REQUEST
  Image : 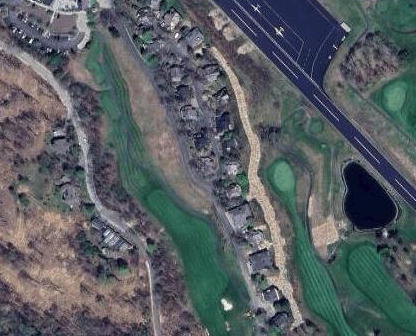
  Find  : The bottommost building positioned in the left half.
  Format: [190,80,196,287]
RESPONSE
[98,225,132,251]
